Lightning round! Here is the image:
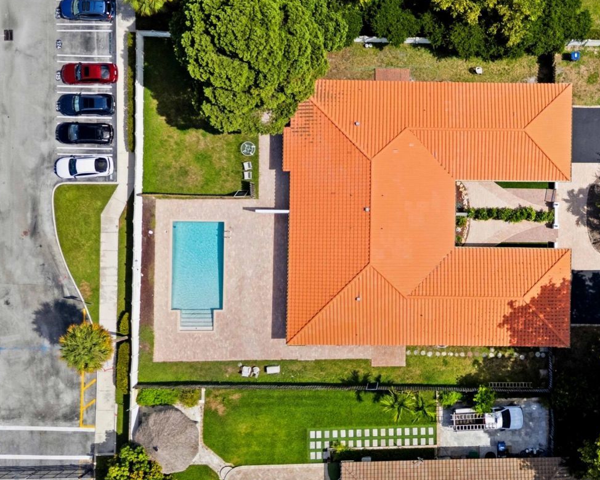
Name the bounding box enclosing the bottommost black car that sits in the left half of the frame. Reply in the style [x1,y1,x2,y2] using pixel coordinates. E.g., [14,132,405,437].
[58,120,117,147]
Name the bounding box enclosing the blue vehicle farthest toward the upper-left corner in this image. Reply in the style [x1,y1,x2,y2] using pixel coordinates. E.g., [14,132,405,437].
[59,0,118,24]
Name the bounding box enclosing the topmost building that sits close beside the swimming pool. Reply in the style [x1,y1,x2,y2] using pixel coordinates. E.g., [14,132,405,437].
[254,79,572,347]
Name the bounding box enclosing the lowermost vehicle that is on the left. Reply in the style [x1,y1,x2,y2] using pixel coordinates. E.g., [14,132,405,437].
[57,155,118,182]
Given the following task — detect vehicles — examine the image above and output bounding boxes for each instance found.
[62,60,121,87]
[57,155,118,182]
[58,91,118,118]
[58,120,117,147]
[451,405,523,436]
[59,0,118,24]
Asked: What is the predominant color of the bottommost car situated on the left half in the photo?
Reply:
white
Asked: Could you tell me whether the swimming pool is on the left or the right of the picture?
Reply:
left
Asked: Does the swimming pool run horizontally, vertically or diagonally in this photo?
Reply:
vertically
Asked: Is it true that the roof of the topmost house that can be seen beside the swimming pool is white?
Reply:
No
